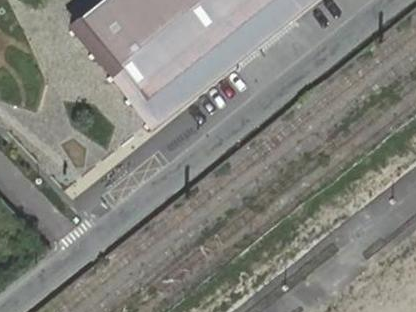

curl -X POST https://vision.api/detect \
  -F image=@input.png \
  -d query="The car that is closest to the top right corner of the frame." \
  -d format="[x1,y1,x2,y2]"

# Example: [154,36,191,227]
[322,0,342,20]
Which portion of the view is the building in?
top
